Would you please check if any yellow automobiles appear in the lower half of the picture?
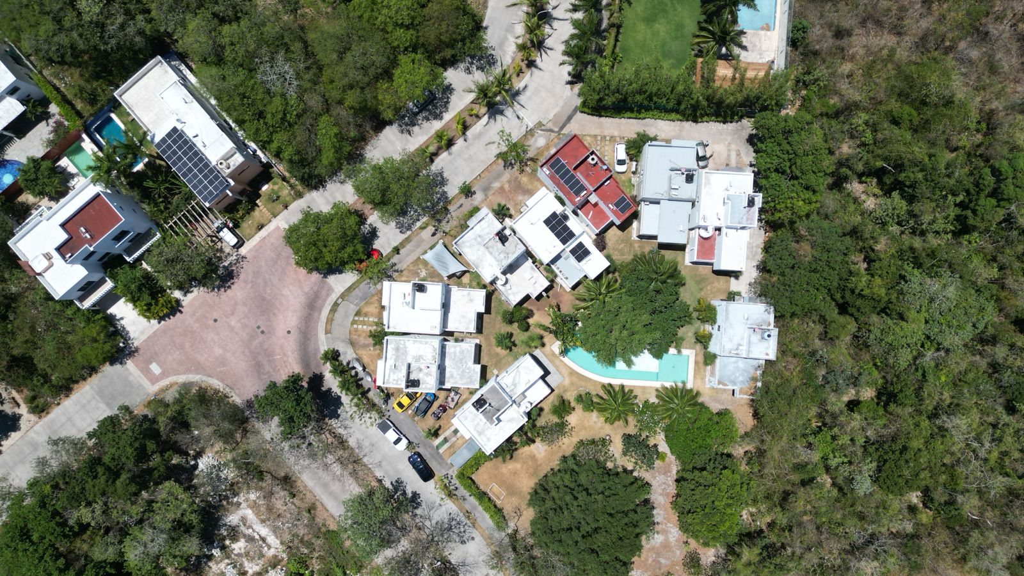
Yes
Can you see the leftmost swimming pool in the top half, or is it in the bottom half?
top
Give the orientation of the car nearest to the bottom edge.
at an angle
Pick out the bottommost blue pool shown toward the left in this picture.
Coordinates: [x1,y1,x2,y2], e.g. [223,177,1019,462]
[0,157,21,191]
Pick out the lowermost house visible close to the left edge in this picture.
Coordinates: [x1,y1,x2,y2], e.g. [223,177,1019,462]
[8,174,161,309]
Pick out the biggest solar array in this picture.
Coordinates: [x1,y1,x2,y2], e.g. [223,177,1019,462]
[155,127,226,202]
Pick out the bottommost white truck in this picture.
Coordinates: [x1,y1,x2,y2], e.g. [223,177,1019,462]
[375,418,410,451]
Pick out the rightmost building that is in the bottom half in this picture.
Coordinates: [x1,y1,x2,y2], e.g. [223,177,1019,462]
[707,301,778,399]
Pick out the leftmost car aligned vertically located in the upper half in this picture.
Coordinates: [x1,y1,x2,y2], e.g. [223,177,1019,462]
[613,142,628,174]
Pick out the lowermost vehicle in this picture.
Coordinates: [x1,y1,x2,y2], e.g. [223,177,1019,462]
[407,450,436,484]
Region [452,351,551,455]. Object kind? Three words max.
house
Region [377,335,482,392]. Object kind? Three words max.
house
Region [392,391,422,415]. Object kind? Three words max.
car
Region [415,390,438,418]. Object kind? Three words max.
car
